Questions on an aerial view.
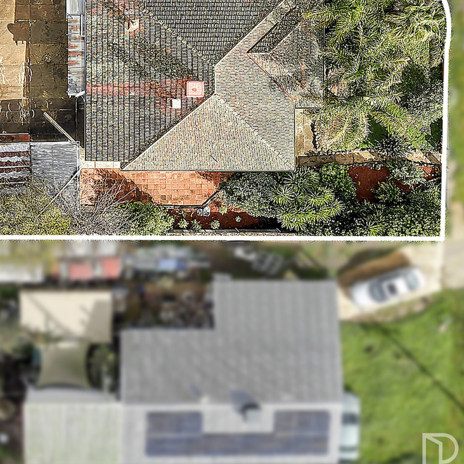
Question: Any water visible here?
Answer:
No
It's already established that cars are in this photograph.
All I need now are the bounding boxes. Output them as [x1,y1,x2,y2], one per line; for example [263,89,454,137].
[340,389,362,463]
[349,263,426,311]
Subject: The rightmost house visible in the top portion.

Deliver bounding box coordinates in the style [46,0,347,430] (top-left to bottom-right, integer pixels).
[74,0,326,171]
